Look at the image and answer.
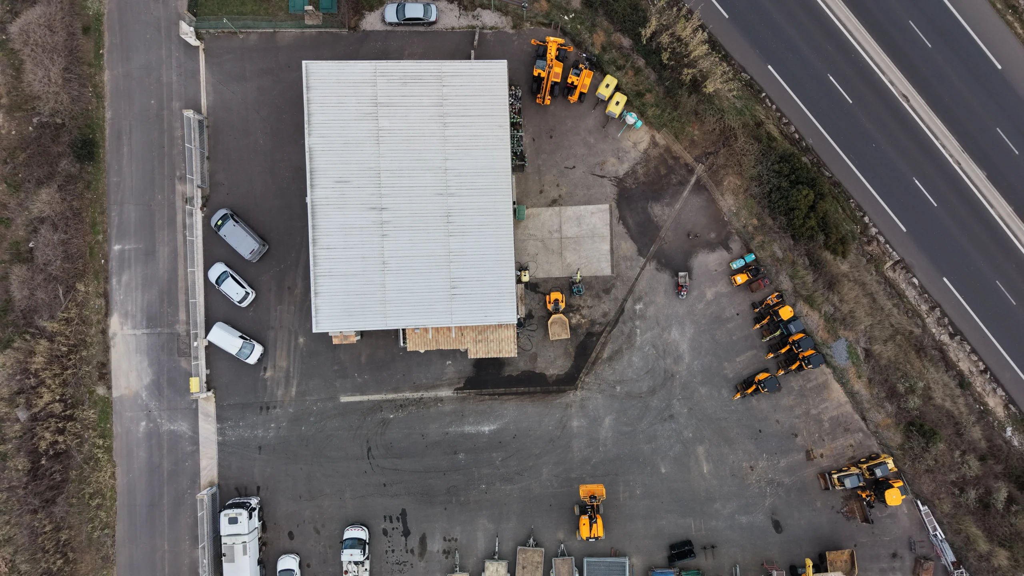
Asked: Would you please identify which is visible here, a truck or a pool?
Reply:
truck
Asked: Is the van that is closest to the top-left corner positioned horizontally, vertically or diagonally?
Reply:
diagonally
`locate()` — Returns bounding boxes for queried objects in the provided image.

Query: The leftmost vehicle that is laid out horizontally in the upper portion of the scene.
[383,2,441,30]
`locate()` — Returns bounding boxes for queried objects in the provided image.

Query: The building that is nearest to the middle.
[302,60,518,359]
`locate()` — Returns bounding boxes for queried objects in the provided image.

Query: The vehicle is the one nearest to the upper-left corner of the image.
[213,211,266,265]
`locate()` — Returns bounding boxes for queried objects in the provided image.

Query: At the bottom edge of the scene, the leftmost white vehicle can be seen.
[221,490,268,576]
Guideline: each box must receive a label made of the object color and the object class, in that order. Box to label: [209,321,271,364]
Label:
white van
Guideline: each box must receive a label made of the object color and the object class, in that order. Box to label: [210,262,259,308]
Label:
white car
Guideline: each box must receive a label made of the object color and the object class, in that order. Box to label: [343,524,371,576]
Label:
white truck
